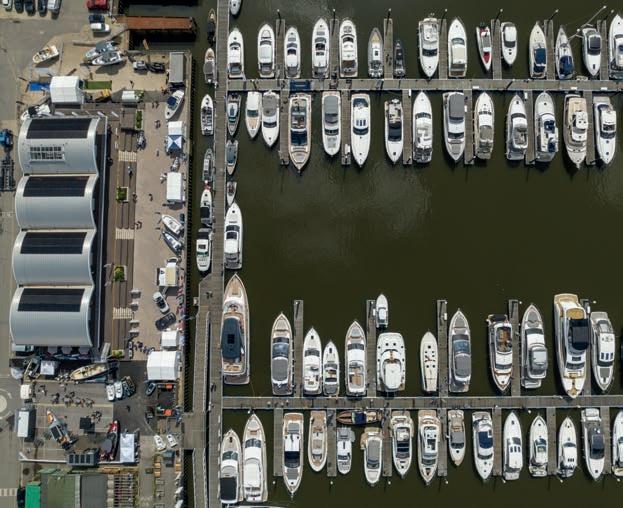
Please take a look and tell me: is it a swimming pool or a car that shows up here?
car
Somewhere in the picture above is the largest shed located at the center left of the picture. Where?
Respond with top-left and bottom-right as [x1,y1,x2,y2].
[8,116,113,347]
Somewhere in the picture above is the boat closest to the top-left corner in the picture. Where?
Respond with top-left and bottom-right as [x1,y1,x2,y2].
[32,45,61,64]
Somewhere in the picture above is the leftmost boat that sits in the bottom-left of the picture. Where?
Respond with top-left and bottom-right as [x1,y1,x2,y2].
[23,357,41,382]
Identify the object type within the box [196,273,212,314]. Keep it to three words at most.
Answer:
pier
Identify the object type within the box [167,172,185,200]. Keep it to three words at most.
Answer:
tent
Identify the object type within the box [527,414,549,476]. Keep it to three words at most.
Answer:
boat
